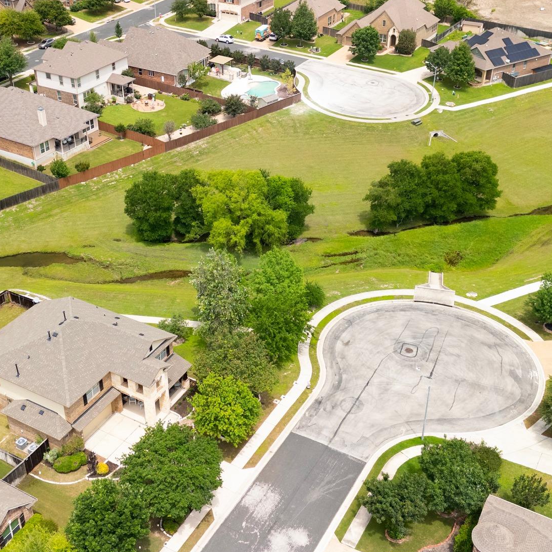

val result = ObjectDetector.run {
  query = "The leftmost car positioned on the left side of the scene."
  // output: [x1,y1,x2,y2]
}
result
[36,36,58,48]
